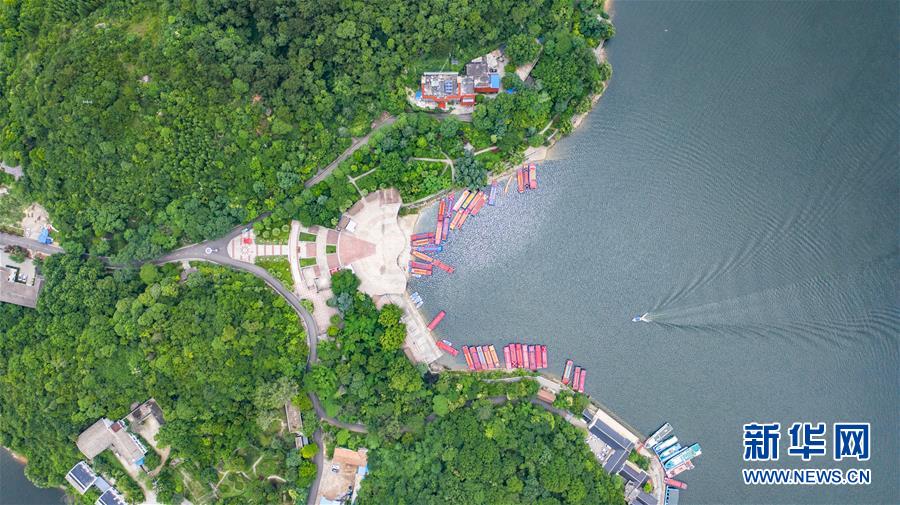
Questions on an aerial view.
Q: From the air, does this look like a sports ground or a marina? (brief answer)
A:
marina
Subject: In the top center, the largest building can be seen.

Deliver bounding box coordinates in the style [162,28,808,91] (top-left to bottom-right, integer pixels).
[422,72,461,107]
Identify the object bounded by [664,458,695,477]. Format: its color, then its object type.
white boat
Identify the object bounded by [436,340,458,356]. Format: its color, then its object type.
red boat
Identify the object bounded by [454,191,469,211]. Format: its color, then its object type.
white boat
